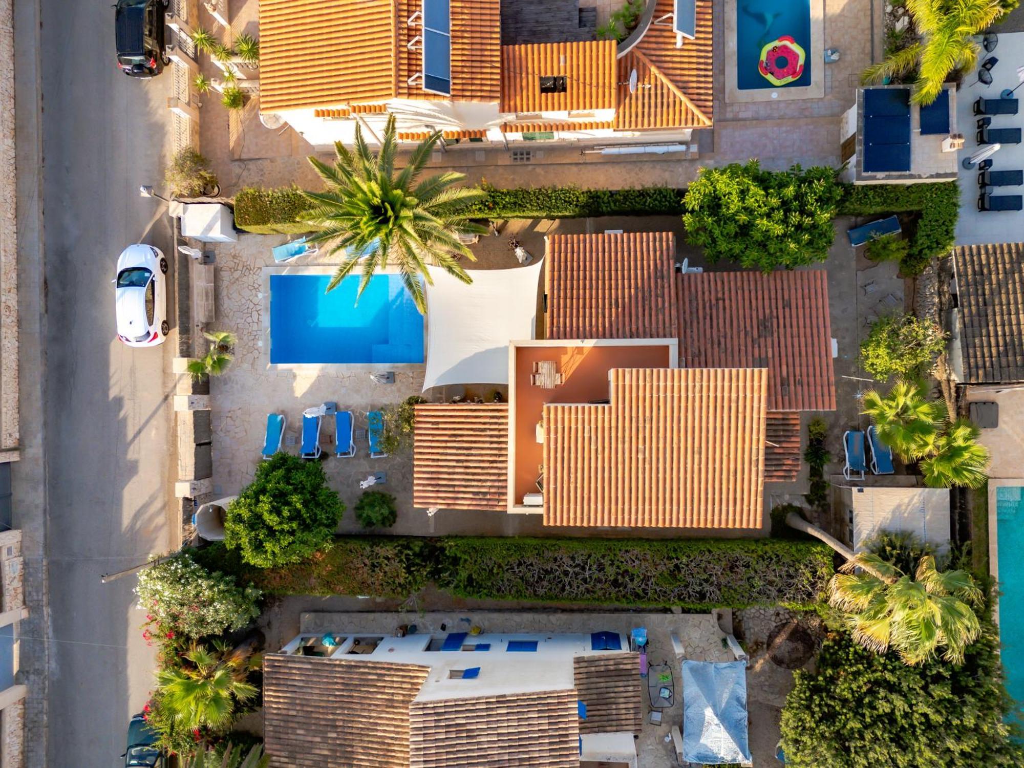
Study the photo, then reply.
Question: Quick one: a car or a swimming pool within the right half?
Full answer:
Visible within the right half is a swimming pool.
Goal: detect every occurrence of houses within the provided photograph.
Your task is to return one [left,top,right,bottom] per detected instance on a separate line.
[261,630,644,768]
[256,0,715,156]
[412,230,835,531]
[925,244,1024,393]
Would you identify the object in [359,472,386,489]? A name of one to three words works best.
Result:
umbrella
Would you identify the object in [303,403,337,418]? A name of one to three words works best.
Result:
umbrella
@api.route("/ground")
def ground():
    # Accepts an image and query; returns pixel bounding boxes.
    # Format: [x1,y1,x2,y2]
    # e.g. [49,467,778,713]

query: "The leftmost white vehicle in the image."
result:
[109,244,171,347]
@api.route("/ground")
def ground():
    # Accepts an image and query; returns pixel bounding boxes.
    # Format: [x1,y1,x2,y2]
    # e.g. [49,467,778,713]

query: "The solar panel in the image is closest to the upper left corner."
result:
[407,0,451,98]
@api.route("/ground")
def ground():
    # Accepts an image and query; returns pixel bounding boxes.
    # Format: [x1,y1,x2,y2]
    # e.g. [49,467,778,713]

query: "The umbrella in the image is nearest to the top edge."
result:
[999,68,1024,98]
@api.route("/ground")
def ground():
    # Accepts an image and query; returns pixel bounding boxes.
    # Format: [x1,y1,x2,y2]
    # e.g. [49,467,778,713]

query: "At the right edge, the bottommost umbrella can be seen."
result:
[961,145,1001,170]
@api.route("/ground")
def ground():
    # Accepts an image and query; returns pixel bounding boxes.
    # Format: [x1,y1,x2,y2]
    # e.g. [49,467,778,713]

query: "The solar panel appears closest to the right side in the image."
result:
[919,89,950,135]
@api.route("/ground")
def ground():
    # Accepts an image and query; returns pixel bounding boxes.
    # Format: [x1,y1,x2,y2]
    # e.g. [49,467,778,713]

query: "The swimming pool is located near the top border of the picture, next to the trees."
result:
[727,0,825,100]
